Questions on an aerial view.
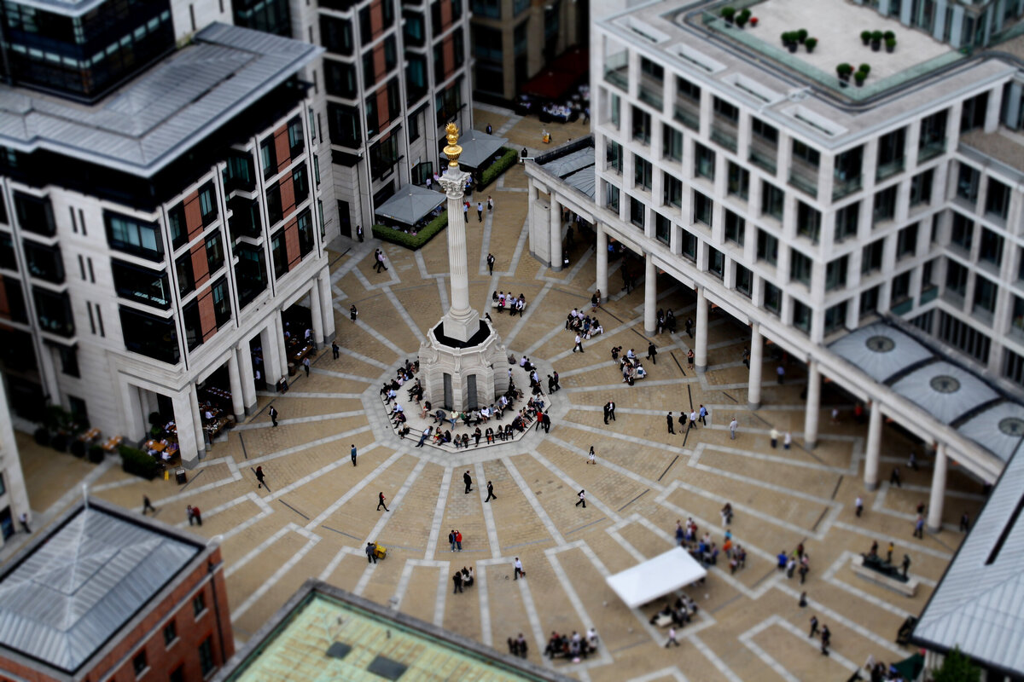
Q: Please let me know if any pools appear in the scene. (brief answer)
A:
No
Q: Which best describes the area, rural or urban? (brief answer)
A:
urban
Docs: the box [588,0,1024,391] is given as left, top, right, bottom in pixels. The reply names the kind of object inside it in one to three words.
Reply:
building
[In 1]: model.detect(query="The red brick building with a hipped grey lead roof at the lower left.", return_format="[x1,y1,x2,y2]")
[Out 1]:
[0,483,227,682]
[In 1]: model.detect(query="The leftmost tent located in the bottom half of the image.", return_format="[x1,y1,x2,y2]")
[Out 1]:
[604,547,707,640]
